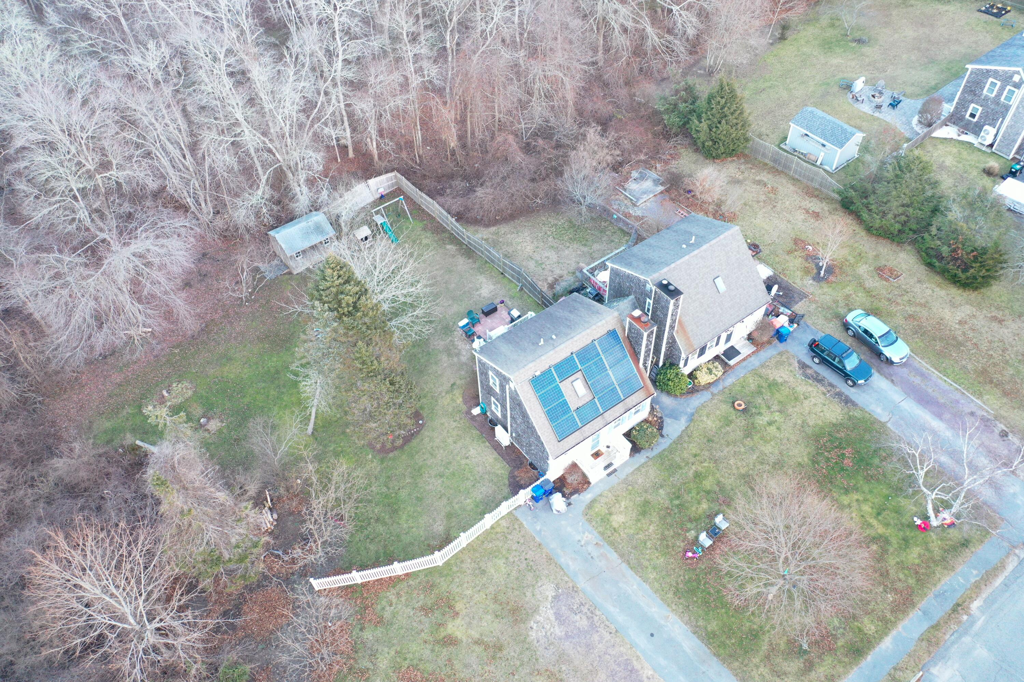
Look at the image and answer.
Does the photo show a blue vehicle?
Yes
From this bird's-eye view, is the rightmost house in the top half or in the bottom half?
top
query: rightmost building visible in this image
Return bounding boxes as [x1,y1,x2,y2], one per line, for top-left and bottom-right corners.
[927,35,1024,163]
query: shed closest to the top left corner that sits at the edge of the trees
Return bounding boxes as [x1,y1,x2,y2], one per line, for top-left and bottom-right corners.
[266,209,338,274]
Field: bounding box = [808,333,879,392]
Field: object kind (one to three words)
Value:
car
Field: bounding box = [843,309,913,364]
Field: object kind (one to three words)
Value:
car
